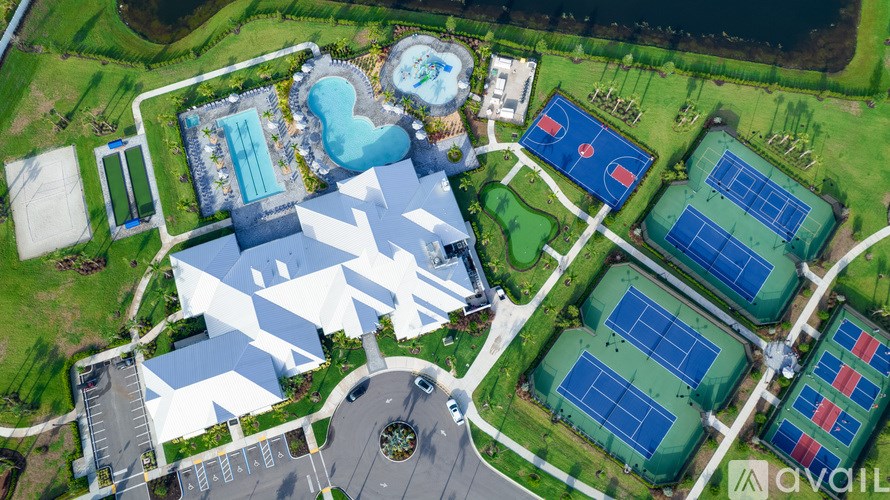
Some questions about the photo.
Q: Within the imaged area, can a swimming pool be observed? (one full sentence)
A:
Yes, there's a swimming pool here.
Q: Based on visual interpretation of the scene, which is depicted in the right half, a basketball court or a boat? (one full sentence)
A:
What appears in the right half is a basketball court.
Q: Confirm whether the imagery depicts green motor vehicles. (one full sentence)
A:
No, there isn't any green motor vehicle down there.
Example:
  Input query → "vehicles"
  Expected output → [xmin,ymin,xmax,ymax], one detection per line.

[447,398,464,425]
[79,382,95,390]
[346,383,368,403]
[413,377,435,395]
[120,358,132,367]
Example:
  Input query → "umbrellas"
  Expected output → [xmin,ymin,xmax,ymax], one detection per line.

[296,122,307,132]
[293,112,303,122]
[319,166,329,177]
[267,121,278,131]
[229,94,240,104]
[294,73,304,83]
[393,105,403,116]
[217,170,229,180]
[204,144,216,154]
[302,63,313,74]
[780,365,795,379]
[416,131,426,141]
[311,160,322,171]
[412,121,422,130]
[458,81,468,91]
[298,146,309,157]
[382,103,393,112]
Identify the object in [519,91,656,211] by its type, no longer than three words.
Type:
basketball court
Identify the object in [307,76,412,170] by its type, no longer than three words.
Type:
swimming pool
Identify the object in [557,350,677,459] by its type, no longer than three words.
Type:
tennis court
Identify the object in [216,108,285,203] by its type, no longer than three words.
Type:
swimming pool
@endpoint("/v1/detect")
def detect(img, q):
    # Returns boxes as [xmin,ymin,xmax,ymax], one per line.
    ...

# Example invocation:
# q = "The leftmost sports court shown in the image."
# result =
[5,145,92,260]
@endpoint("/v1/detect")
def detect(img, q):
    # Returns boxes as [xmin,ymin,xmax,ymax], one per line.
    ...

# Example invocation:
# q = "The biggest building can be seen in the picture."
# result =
[142,159,494,443]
